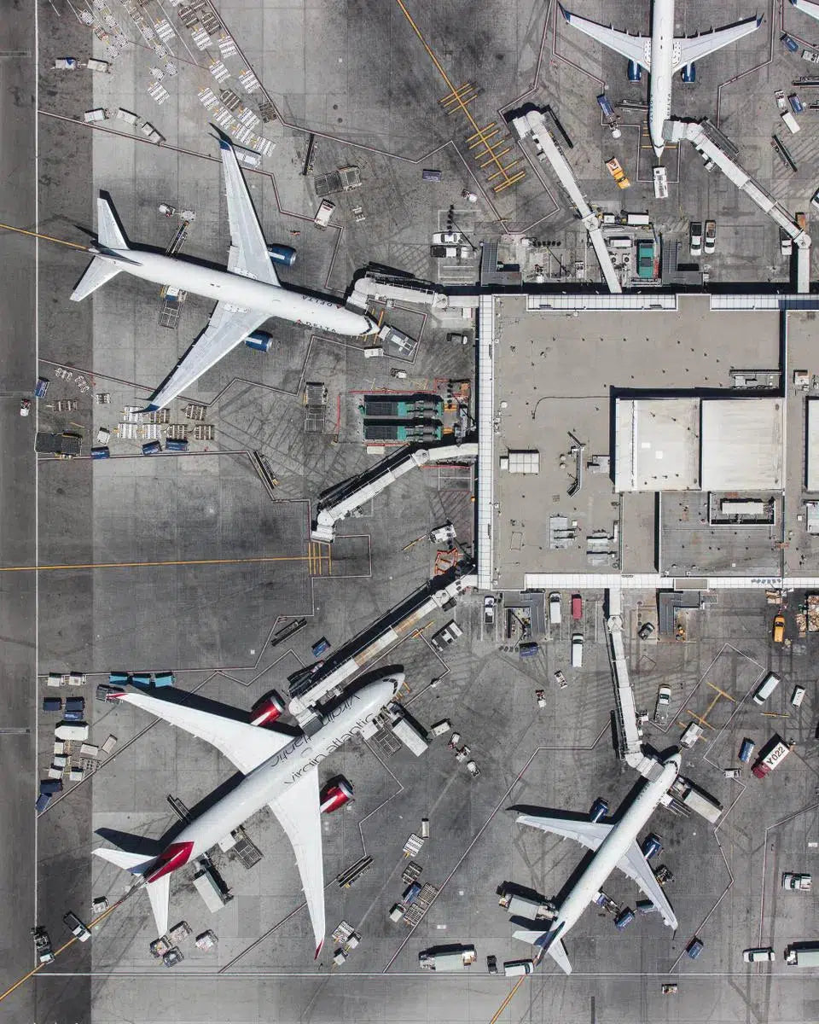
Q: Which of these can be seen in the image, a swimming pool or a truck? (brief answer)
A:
truck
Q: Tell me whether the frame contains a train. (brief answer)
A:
No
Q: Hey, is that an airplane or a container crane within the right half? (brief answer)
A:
airplane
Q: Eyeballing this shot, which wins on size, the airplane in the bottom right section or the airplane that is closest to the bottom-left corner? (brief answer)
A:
the airplane that is closest to the bottom-left corner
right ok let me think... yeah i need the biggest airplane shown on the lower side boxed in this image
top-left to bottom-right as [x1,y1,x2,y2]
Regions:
[92,673,405,961]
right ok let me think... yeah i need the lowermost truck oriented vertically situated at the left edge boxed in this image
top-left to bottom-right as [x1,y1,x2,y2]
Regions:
[34,926,55,966]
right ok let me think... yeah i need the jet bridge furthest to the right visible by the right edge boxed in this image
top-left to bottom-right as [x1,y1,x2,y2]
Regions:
[662,119,811,294]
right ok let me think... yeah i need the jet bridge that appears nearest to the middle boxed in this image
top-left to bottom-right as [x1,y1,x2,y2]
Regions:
[311,442,479,543]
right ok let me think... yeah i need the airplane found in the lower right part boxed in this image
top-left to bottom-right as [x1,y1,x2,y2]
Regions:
[512,754,682,974]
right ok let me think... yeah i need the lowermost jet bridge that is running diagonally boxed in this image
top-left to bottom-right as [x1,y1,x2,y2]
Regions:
[287,570,479,737]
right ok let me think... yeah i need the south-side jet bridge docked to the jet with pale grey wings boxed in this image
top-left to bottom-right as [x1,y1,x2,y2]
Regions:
[604,588,668,784]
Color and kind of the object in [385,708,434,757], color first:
white truck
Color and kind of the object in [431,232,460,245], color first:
white vehicle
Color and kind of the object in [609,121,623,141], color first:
white work vehicle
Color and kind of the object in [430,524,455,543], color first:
white vehicle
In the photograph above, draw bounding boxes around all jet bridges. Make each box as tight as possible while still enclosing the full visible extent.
[604,588,668,784]
[505,110,629,294]
[287,570,479,737]
[662,119,811,294]
[311,442,479,543]
[342,267,479,315]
